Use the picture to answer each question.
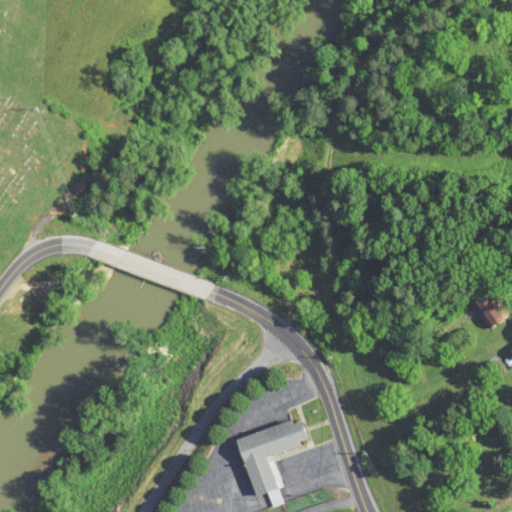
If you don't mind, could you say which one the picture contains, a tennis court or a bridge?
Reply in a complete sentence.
I can see a bridge in this picture.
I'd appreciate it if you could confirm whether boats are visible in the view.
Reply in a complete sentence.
No, the frame has no boat in it.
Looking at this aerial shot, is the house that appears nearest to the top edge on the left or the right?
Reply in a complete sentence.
You can find the house that appears nearest to the top edge on the right side of the picture.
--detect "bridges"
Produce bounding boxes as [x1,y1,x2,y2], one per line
[88,241,214,299]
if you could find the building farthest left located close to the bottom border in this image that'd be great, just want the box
[236,418,306,508]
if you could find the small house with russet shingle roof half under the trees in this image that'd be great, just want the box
[478,298,510,330]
